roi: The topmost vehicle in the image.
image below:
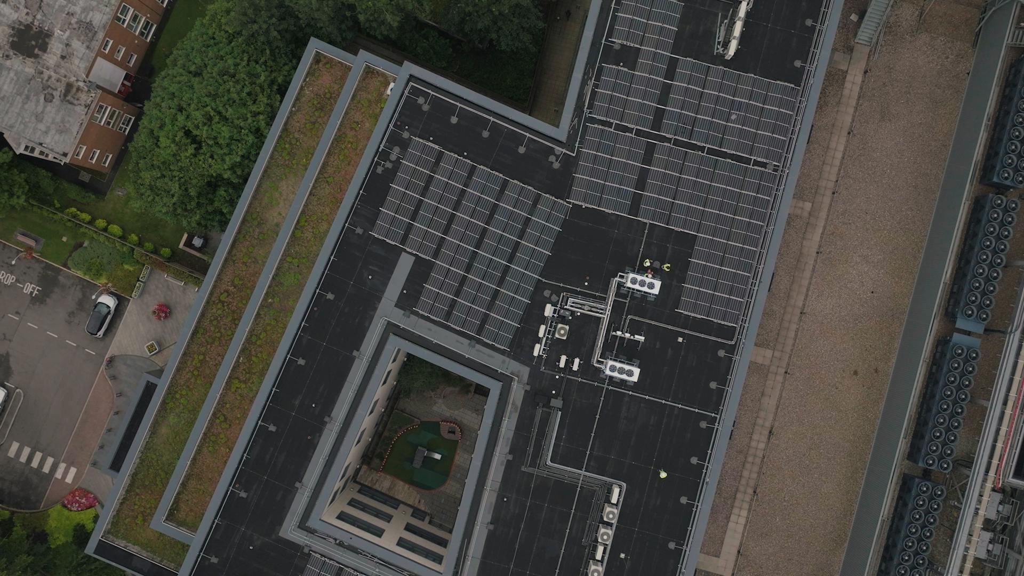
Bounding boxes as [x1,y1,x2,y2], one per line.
[83,293,121,340]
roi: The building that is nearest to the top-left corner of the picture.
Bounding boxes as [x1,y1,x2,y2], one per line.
[0,0,167,172]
